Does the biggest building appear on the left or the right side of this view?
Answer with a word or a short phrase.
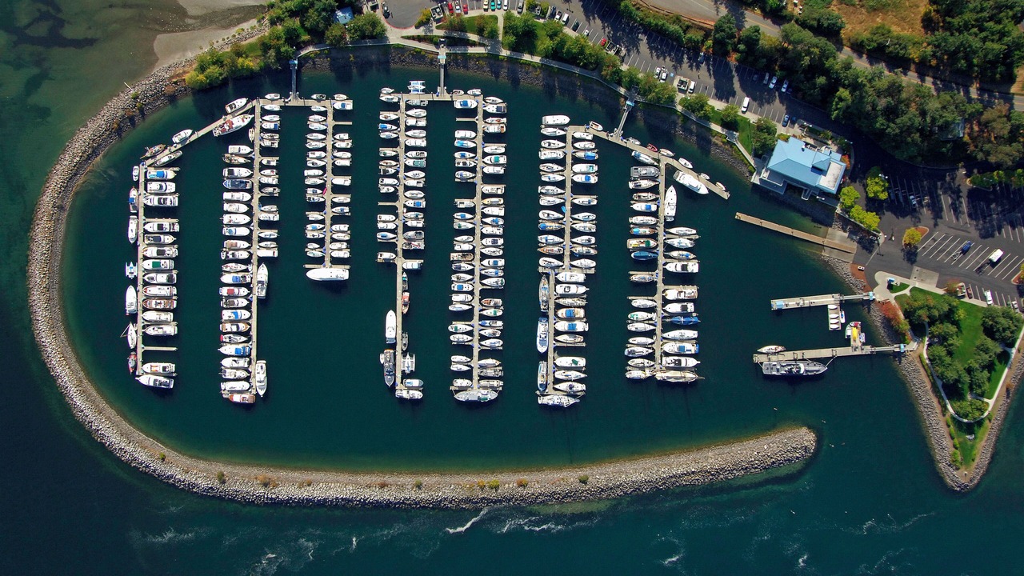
right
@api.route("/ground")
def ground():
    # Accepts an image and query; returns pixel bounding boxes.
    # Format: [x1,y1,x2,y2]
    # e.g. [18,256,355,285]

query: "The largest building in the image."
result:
[749,134,845,207]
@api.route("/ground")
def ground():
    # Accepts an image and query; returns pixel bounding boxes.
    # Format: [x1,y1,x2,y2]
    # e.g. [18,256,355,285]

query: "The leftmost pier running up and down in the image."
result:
[136,161,181,376]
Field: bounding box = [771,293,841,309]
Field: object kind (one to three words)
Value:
pier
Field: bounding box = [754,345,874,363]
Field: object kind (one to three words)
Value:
pier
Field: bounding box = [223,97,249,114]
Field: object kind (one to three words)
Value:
boat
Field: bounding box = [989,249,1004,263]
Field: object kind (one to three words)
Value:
vehicle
